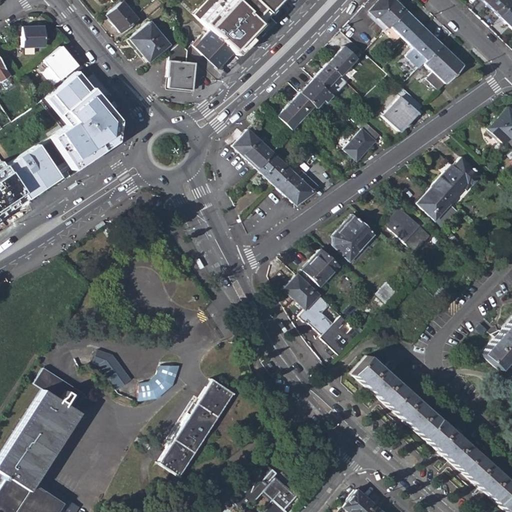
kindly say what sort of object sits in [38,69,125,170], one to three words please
building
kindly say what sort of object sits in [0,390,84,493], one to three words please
building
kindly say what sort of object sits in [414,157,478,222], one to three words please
house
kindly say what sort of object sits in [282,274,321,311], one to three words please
house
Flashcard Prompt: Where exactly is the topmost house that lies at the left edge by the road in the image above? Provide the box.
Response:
[21,24,48,55]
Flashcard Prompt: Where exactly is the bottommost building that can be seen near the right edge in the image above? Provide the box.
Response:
[351,358,512,512]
